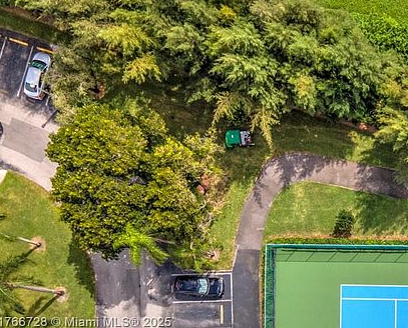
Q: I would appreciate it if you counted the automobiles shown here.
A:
two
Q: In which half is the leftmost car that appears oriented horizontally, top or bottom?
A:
bottom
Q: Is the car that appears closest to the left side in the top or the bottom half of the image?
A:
top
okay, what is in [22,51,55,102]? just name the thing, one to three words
car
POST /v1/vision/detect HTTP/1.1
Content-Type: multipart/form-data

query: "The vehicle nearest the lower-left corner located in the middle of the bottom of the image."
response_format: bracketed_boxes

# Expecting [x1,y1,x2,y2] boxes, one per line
[174,276,225,299]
